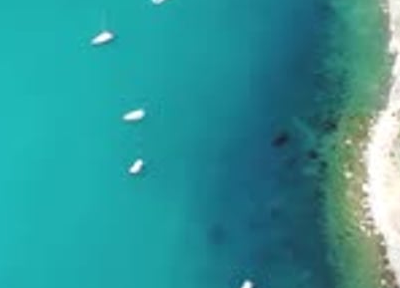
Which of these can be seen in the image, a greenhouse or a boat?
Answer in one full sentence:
Looking from above, you can make out a boat.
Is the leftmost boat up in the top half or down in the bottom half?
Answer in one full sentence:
You can find the leftmost boat in the top half.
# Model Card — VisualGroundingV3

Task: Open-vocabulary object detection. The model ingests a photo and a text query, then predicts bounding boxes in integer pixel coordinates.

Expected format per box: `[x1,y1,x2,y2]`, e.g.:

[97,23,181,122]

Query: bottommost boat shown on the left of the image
[128,157,144,174]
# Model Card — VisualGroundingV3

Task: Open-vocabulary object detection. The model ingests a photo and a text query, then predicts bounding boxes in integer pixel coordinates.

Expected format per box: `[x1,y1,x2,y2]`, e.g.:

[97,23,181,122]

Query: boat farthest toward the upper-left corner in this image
[91,14,115,42]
